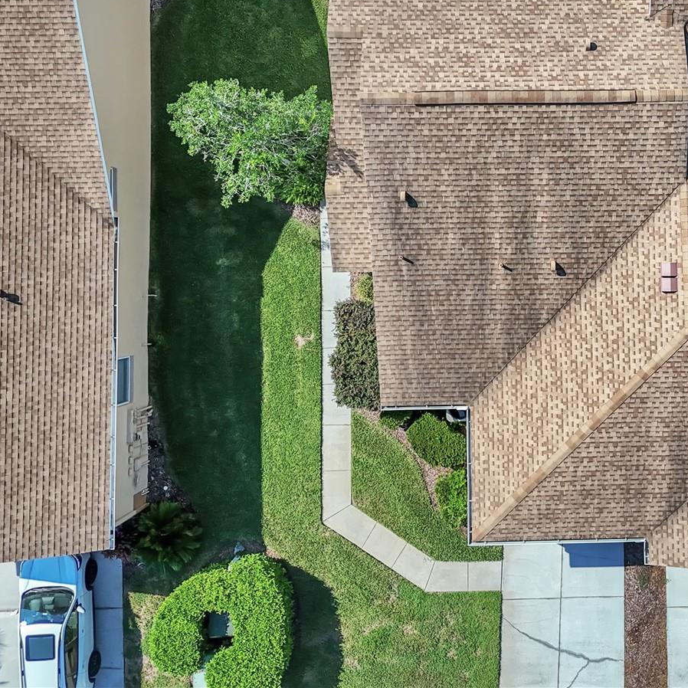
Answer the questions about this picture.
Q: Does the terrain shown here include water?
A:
No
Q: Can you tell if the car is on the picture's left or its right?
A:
left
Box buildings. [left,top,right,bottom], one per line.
[0,0,156,562]
[323,0,688,560]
